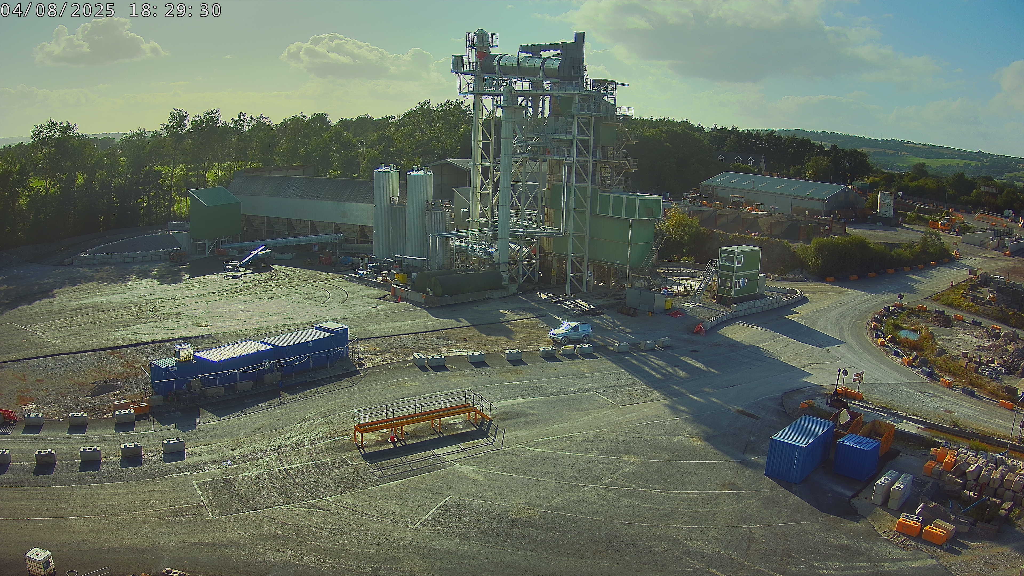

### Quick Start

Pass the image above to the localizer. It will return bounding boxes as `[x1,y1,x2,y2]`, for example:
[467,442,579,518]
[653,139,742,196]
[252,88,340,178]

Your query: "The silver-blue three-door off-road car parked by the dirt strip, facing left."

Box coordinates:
[551,323,594,344]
